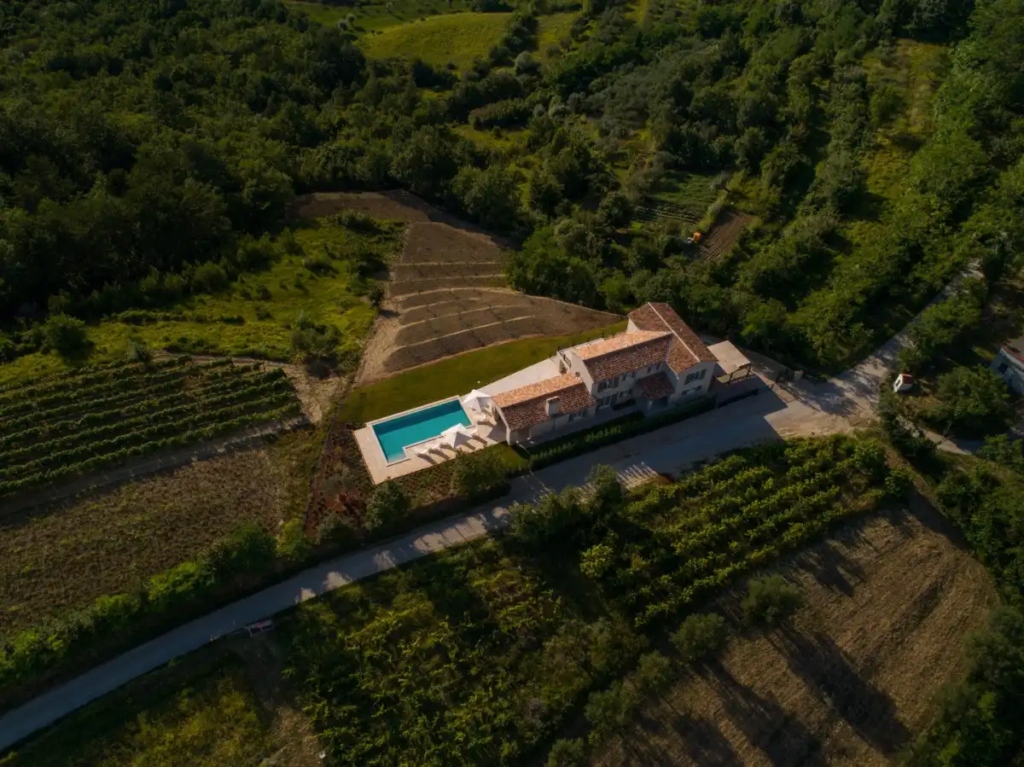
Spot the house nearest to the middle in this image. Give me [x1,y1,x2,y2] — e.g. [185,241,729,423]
[491,300,718,442]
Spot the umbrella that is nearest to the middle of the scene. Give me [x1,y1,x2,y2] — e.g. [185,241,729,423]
[460,382,492,409]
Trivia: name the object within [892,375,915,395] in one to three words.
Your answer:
building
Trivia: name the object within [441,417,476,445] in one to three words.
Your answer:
umbrella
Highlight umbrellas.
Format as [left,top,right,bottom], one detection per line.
[460,382,492,409]
[441,417,476,445]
